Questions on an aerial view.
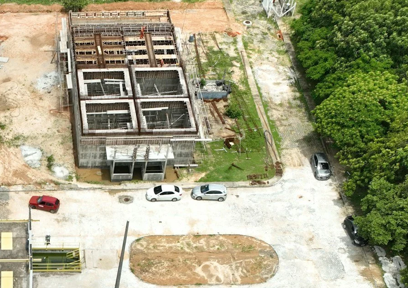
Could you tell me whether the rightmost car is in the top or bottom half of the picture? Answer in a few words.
bottom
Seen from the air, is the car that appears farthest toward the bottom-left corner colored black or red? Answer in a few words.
red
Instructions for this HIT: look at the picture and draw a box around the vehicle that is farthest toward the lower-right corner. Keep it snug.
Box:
[343,213,370,244]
